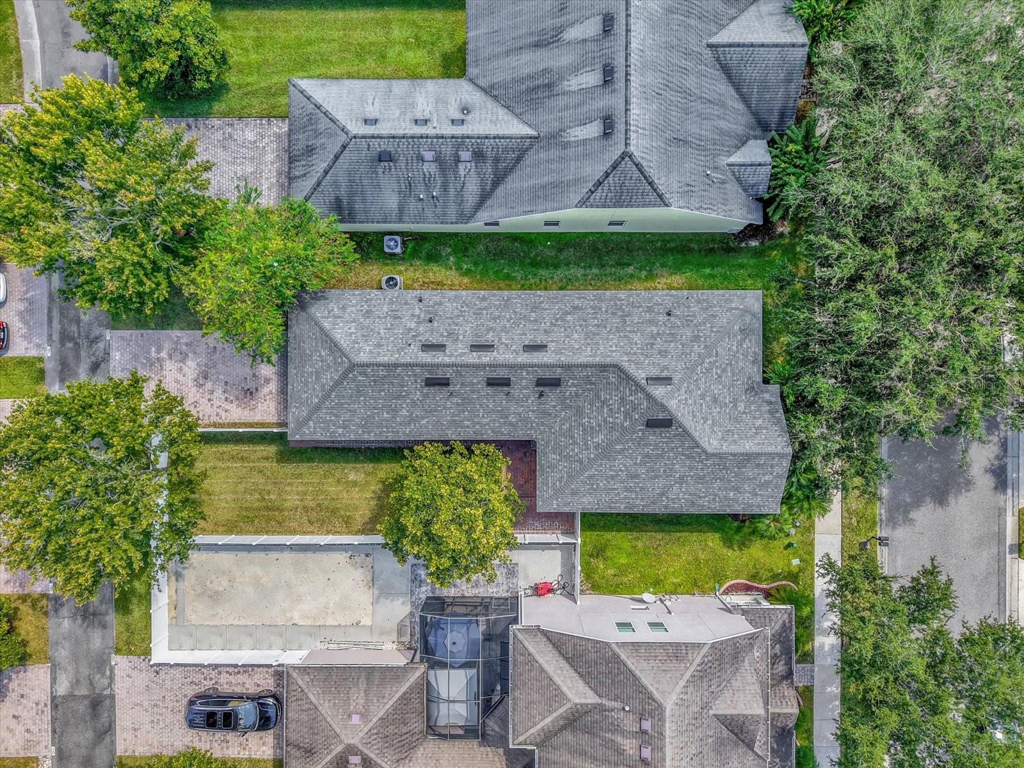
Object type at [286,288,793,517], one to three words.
house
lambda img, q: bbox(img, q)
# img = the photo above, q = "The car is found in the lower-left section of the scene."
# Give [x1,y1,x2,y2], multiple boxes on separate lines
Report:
[183,688,283,740]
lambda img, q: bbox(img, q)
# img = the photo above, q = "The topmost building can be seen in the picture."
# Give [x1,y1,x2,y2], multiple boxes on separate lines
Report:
[286,0,809,233]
